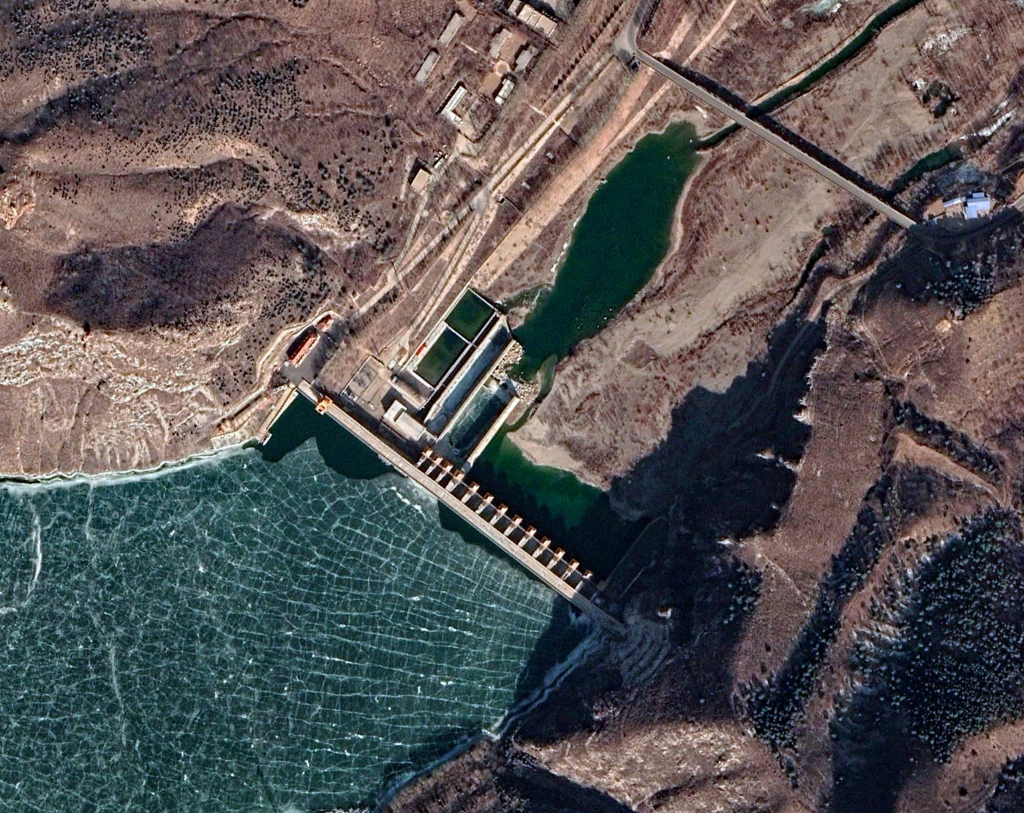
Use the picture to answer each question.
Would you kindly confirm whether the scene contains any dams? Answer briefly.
Yes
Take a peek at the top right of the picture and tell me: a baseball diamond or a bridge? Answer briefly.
bridge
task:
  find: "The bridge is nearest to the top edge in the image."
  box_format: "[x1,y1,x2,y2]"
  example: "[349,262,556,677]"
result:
[633,48,915,230]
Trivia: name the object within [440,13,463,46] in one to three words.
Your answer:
building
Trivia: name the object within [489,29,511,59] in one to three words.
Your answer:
building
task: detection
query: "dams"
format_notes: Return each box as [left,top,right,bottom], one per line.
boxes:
[297,380,627,635]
